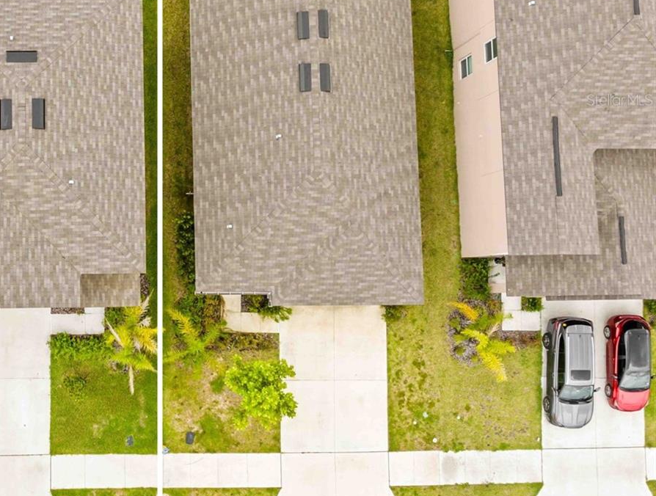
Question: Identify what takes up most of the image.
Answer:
buildings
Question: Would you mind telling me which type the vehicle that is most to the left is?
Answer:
automobile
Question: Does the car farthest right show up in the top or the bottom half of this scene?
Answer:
bottom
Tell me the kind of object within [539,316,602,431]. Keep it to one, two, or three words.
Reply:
car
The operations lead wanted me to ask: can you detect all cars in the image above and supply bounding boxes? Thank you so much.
[599,312,656,411]
[539,316,602,431]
